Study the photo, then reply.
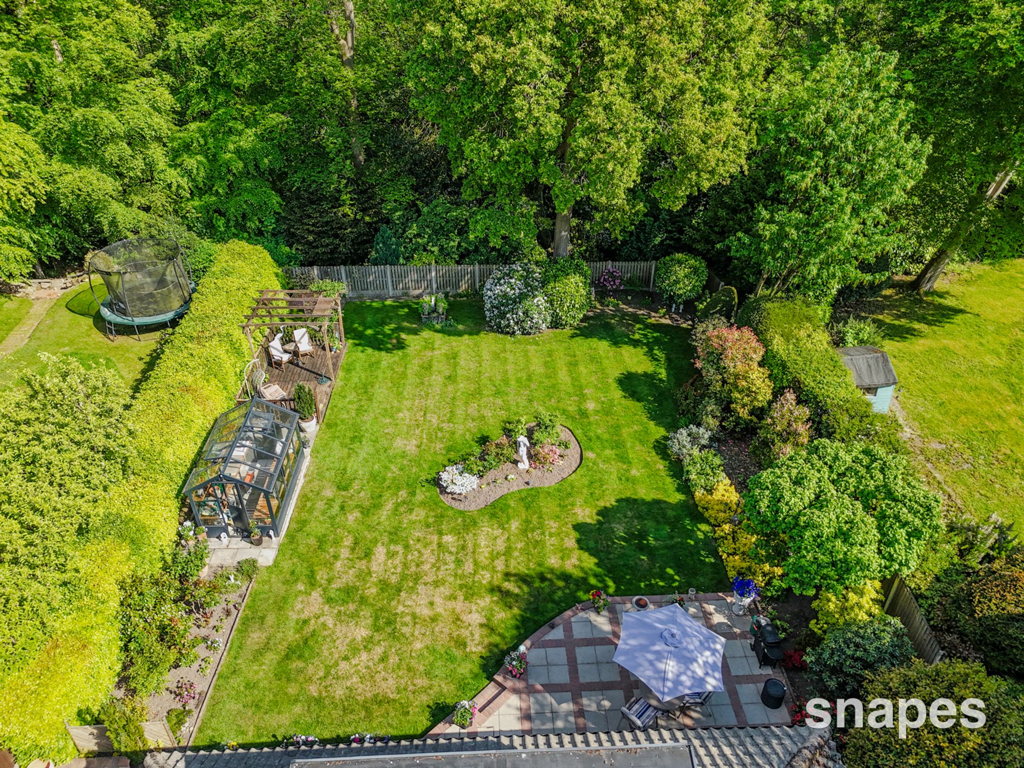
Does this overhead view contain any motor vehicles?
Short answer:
No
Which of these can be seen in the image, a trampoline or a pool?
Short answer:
trampoline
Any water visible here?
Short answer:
No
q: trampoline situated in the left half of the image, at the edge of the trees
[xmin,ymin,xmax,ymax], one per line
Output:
[82,239,197,346]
